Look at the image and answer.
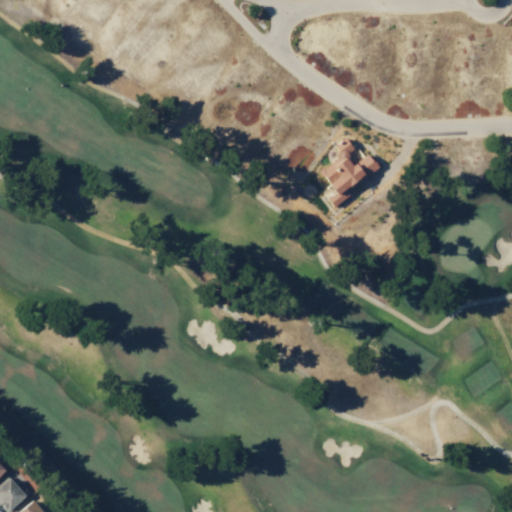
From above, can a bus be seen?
No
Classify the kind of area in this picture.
golf course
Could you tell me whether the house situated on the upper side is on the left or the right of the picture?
right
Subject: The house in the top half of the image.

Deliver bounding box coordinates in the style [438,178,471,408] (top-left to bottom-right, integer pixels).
[324,138,381,206]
